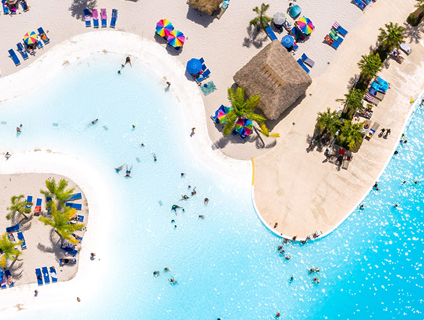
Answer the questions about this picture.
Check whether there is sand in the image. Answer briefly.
Yes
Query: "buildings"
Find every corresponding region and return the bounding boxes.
[232,37,311,123]
[187,0,224,17]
